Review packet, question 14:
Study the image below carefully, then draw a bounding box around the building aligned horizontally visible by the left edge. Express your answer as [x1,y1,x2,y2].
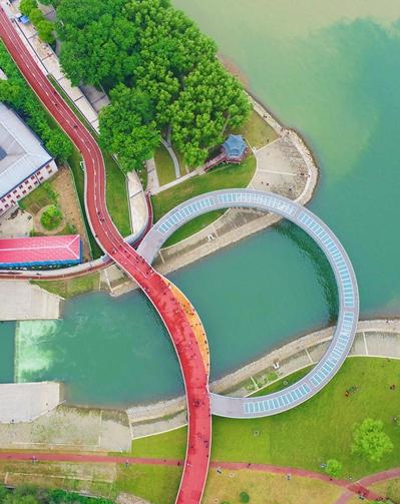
[0,233,84,270]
